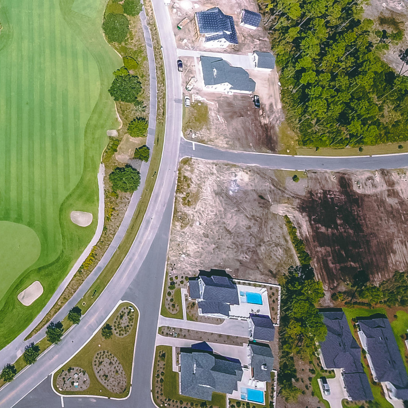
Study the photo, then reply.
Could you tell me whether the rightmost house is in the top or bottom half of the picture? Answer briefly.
bottom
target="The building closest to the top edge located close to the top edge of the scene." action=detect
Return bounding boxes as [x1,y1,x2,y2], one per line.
[195,10,262,47]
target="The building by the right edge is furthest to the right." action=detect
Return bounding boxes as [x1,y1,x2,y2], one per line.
[356,319,408,407]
